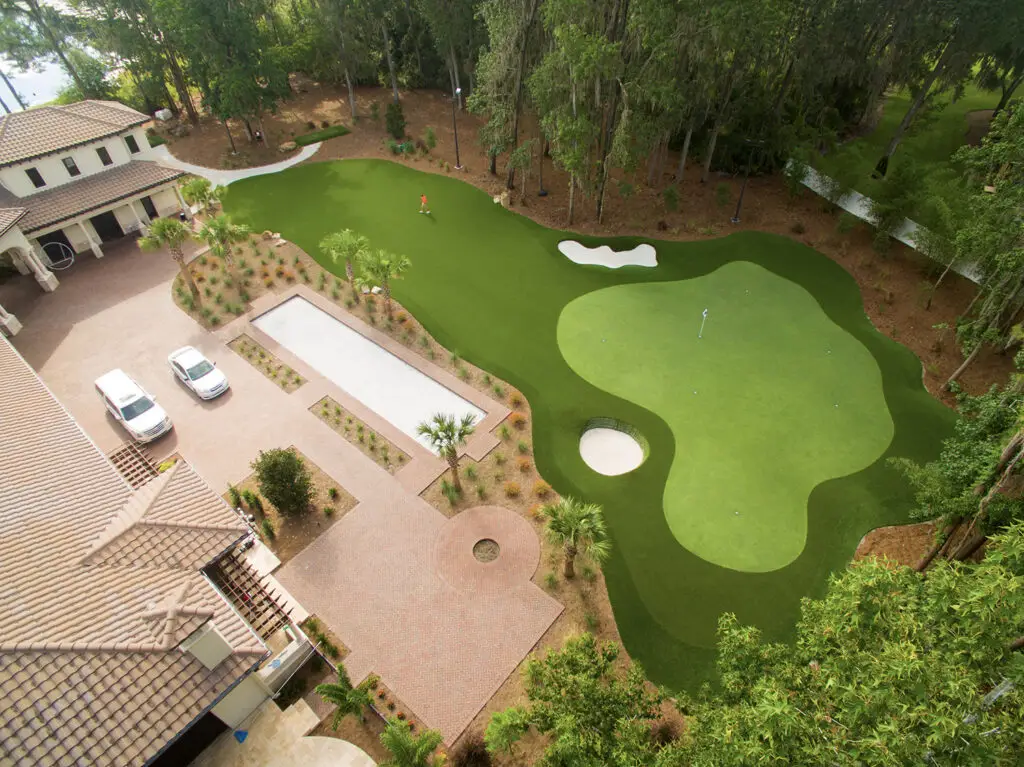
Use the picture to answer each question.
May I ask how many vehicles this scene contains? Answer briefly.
2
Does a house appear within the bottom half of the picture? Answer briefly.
Yes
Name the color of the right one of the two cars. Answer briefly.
white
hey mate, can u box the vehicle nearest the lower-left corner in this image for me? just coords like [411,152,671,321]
[95,370,173,444]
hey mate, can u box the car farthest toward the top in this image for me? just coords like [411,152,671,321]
[167,344,229,401]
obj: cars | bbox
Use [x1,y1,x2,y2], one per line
[95,370,173,444]
[167,344,229,401]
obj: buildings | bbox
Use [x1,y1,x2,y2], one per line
[0,333,279,767]
[0,97,197,283]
